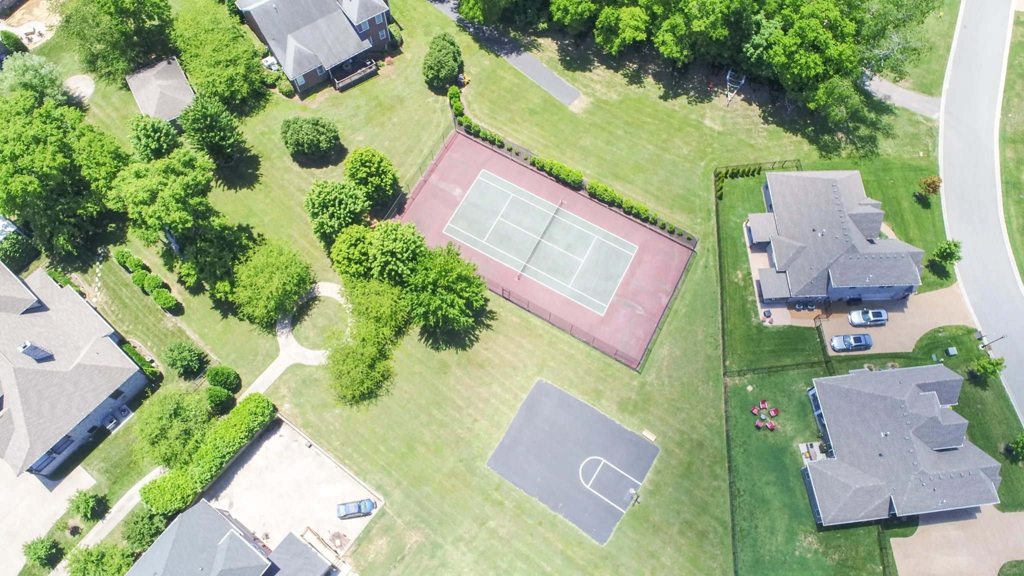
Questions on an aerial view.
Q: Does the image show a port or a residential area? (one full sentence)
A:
It's a residential area.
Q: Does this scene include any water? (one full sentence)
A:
No, there's no water in this view.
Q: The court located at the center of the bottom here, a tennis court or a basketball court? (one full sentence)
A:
The court located at the center of the bottom is a basketball court.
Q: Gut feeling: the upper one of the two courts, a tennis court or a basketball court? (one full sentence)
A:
Specifically, the upper one of the two courts is a tennis court.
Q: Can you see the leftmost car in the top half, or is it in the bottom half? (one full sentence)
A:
The leftmost car is in the bottom half of the image.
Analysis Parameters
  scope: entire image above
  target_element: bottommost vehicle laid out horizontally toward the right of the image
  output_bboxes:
[830,333,873,351]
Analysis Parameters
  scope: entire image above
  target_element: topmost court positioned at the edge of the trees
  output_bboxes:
[381,129,695,372]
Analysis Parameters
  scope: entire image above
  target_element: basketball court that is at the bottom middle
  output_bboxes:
[489,381,659,544]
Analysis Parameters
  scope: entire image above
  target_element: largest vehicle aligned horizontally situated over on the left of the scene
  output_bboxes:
[336,497,378,519]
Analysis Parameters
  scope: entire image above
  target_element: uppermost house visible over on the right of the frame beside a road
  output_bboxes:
[743,170,925,304]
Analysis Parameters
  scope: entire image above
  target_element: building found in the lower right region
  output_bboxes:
[802,363,1002,527]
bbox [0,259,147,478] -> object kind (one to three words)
house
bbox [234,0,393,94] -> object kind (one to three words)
house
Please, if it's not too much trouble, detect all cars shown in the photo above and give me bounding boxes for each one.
[336,497,378,519]
[847,308,889,327]
[830,333,873,351]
